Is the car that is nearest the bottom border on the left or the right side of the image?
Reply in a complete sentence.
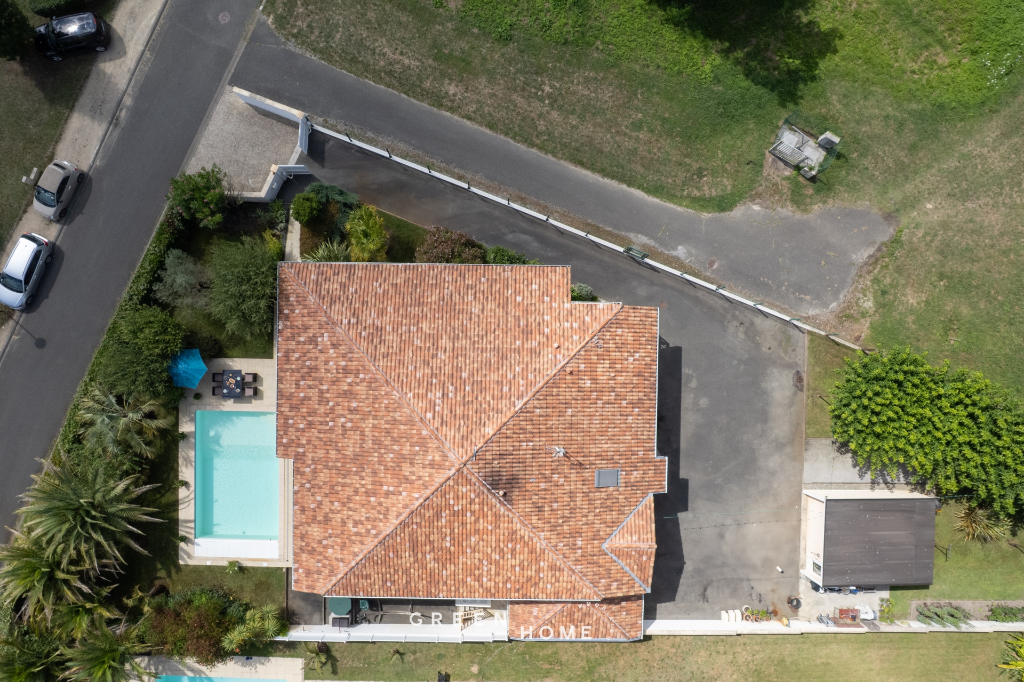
It is on the left.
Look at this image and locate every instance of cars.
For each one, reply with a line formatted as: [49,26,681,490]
[23,150,82,220]
[31,7,112,58]
[0,232,50,310]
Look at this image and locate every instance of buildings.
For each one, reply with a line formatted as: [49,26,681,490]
[274,260,669,601]
[804,490,937,589]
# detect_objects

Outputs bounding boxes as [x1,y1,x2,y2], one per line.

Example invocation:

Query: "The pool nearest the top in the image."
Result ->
[194,411,279,559]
